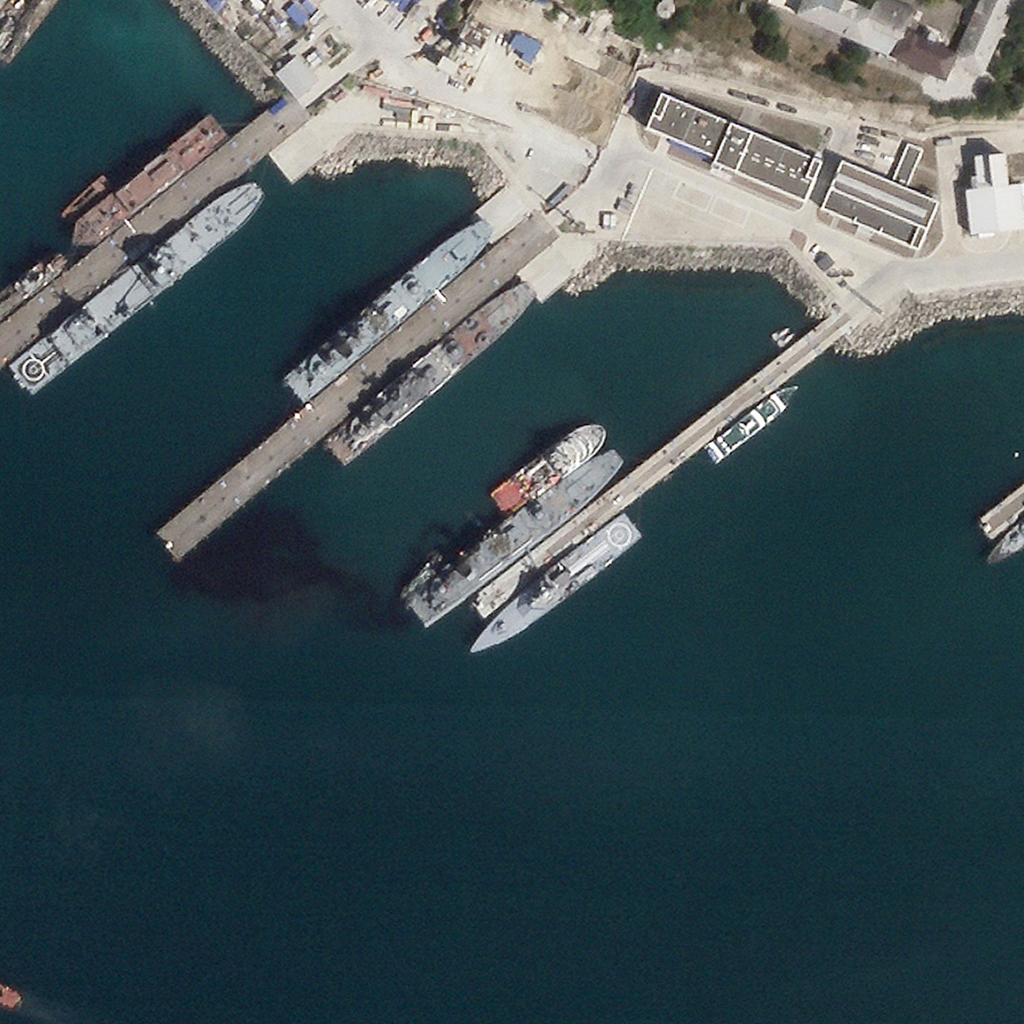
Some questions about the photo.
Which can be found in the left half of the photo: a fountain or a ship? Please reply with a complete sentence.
It is a ship that can be seen in the left half of the photo.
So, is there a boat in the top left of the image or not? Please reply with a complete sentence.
Yes, I can see a boat in the top left of the image.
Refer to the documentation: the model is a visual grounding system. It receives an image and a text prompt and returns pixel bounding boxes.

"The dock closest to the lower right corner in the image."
[980,484,1024,540]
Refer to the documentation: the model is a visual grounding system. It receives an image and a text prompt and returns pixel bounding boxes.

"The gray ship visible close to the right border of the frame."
[987,521,1024,563]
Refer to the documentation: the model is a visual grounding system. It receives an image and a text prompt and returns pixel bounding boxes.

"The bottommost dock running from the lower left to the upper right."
[475,556,540,618]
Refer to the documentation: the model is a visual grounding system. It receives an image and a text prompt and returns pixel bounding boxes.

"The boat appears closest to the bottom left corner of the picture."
[0,981,22,1008]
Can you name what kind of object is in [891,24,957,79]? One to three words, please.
house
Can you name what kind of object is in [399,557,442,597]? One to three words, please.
ship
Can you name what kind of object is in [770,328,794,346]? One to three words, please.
boat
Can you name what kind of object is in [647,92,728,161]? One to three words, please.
building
